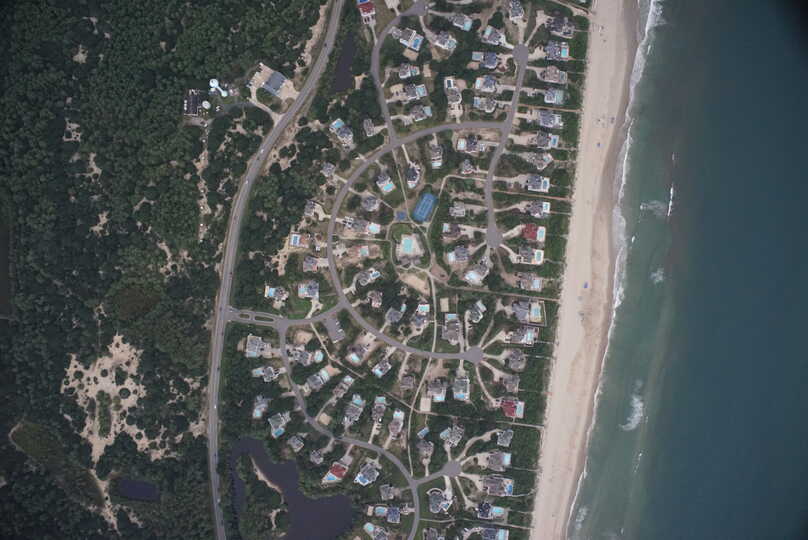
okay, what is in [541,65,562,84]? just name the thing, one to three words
house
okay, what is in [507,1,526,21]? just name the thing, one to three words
house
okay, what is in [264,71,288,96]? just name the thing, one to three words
building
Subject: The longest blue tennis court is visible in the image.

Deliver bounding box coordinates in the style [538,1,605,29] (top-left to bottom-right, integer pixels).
[412,191,439,223]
